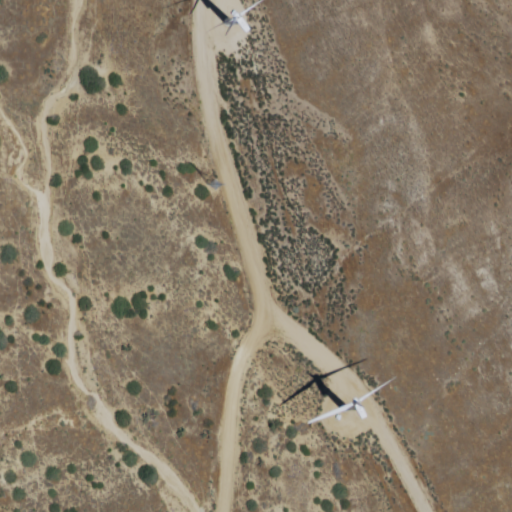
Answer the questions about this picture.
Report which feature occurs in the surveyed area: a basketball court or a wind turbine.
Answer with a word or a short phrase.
wind turbine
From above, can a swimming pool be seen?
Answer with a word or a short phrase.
No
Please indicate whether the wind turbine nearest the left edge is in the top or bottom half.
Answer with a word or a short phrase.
top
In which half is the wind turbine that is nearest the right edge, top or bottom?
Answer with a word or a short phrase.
bottom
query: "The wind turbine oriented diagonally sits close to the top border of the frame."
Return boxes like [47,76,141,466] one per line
[212,0,259,32]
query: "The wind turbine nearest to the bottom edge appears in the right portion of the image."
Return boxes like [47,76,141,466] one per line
[311,379,392,422]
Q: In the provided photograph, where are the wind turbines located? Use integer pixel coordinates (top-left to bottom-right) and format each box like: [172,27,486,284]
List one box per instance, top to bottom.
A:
[212,0,259,32]
[311,379,392,422]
